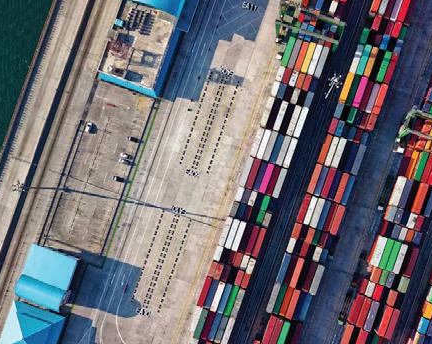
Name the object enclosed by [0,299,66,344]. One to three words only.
house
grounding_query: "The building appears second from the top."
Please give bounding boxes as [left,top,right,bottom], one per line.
[11,243,85,311]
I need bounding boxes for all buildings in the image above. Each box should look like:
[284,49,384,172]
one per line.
[0,299,66,344]
[11,243,85,311]
[93,0,210,101]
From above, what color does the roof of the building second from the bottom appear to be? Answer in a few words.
blue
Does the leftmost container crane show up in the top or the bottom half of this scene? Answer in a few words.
top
